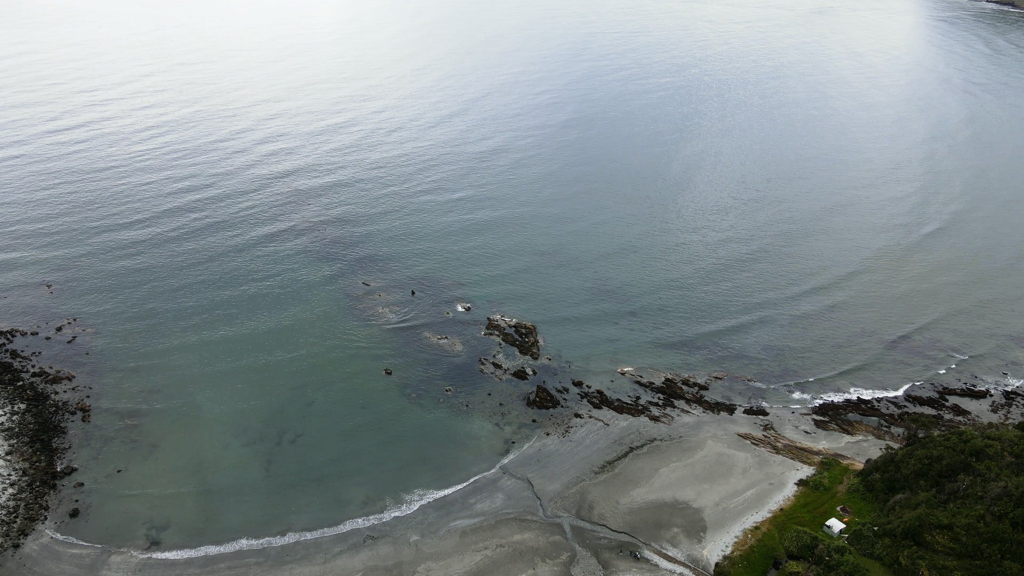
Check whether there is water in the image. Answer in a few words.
Yes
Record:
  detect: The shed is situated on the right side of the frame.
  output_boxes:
[823,516,846,539]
